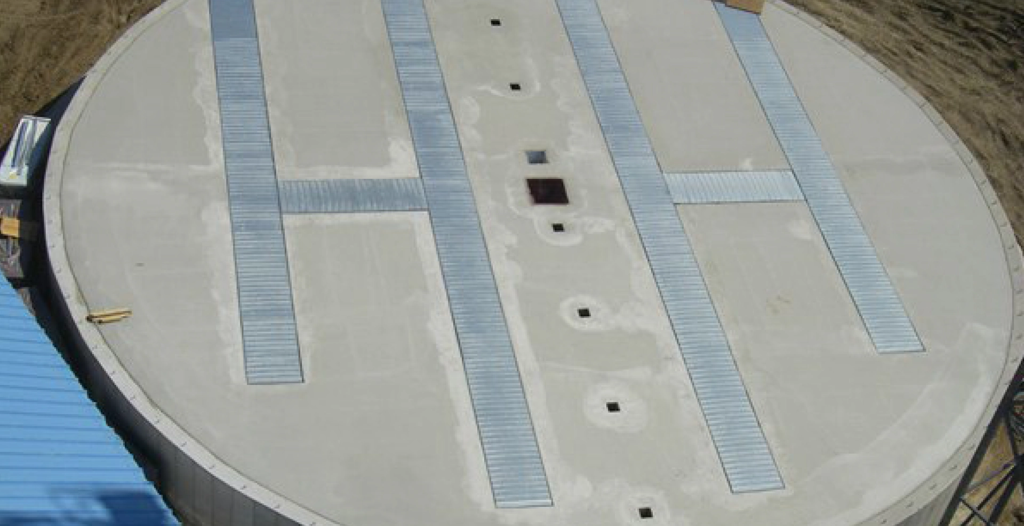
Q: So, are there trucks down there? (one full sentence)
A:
No, the picture doesn't show any truck.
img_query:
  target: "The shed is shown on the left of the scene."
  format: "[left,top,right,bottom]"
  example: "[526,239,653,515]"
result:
[0,270,181,526]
